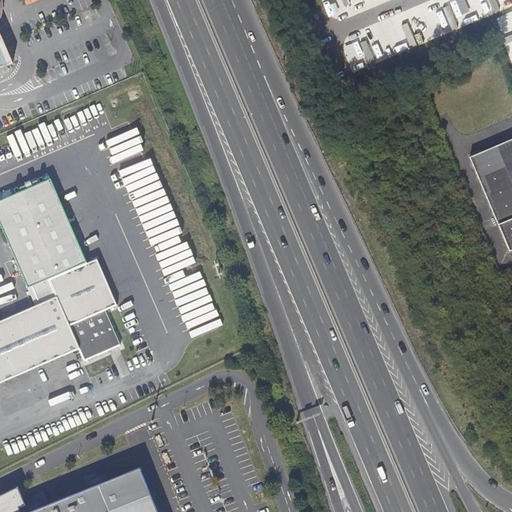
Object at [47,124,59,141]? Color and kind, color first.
white vehicle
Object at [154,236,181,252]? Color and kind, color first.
white vehicle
